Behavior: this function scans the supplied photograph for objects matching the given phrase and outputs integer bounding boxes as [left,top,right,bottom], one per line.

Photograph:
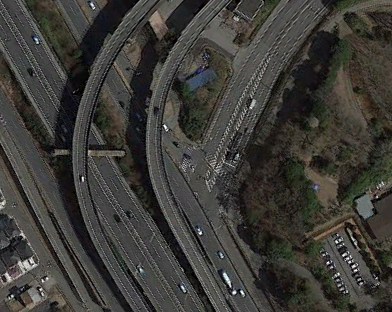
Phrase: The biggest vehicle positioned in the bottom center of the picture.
[220,269,237,296]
